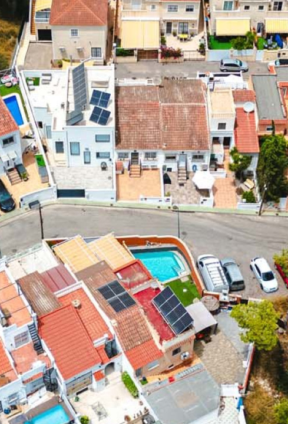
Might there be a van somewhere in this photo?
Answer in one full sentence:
Yes, you can see a van in this photo.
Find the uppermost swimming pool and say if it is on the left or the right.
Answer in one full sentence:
It is on the left.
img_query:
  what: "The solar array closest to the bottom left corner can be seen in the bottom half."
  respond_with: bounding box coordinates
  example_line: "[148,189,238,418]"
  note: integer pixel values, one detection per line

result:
[97,280,137,313]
